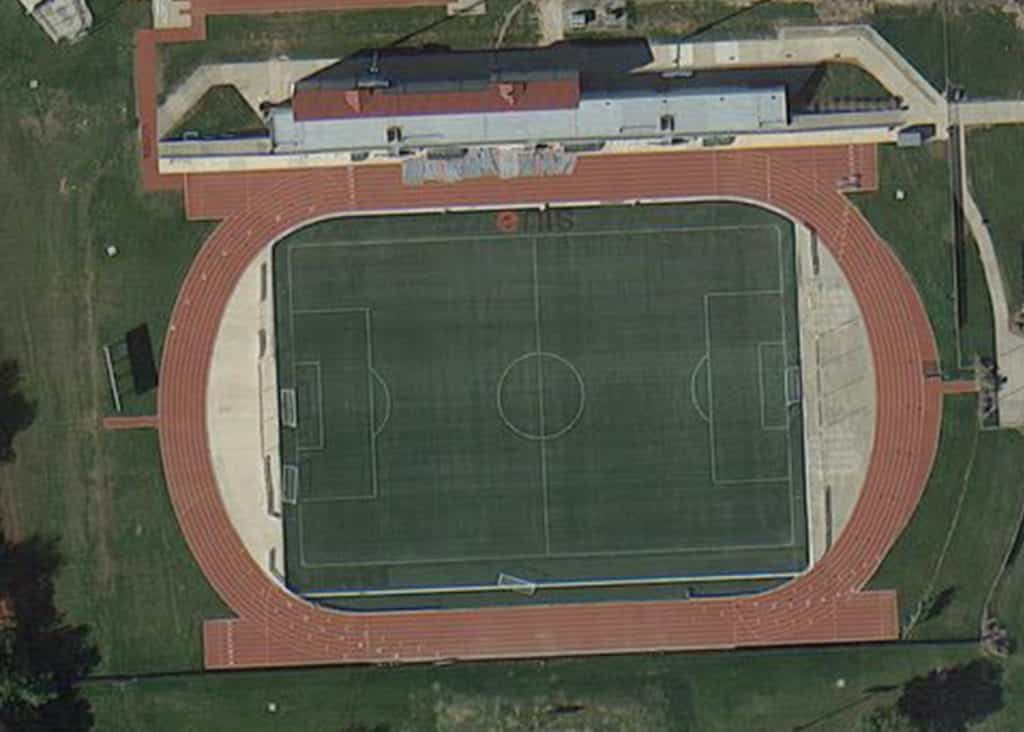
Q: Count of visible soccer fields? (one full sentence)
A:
In total, 1 soccer field can be seen.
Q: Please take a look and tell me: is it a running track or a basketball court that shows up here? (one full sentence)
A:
Looking from above, you can make out a running track.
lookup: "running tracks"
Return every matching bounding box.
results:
[158,146,943,669]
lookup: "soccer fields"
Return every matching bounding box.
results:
[273,199,812,613]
